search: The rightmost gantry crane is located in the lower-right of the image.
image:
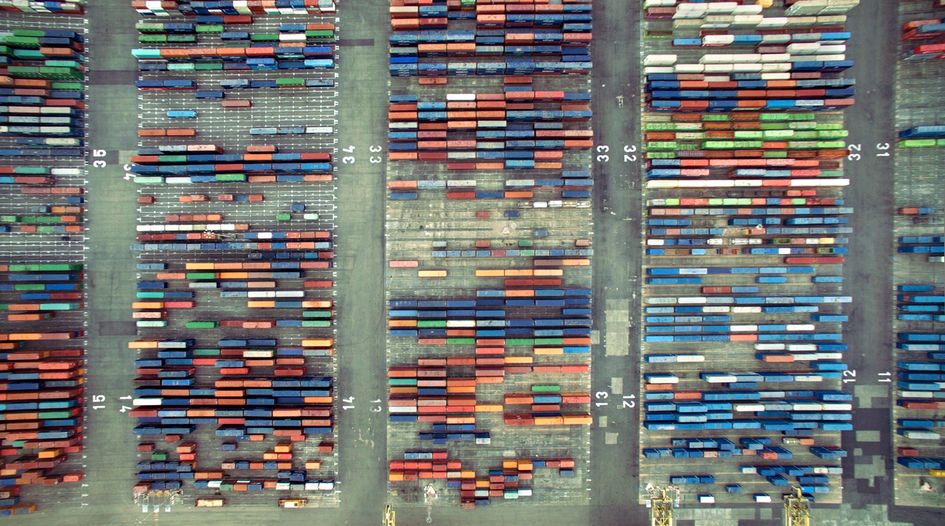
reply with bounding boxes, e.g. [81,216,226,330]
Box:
[784,484,809,526]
